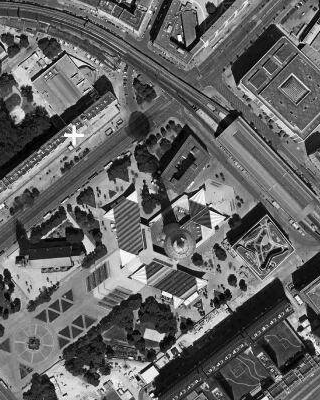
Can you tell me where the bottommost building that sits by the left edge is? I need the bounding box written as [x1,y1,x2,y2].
[15,245,86,274]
